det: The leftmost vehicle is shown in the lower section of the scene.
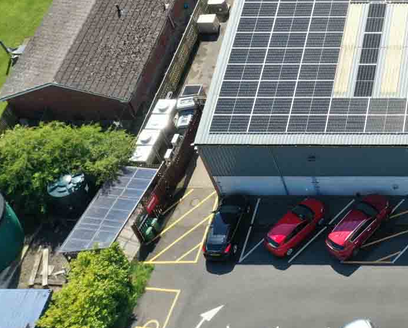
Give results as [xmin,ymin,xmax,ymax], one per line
[202,187,257,259]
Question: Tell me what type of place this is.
industrial area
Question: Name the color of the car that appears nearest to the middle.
black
